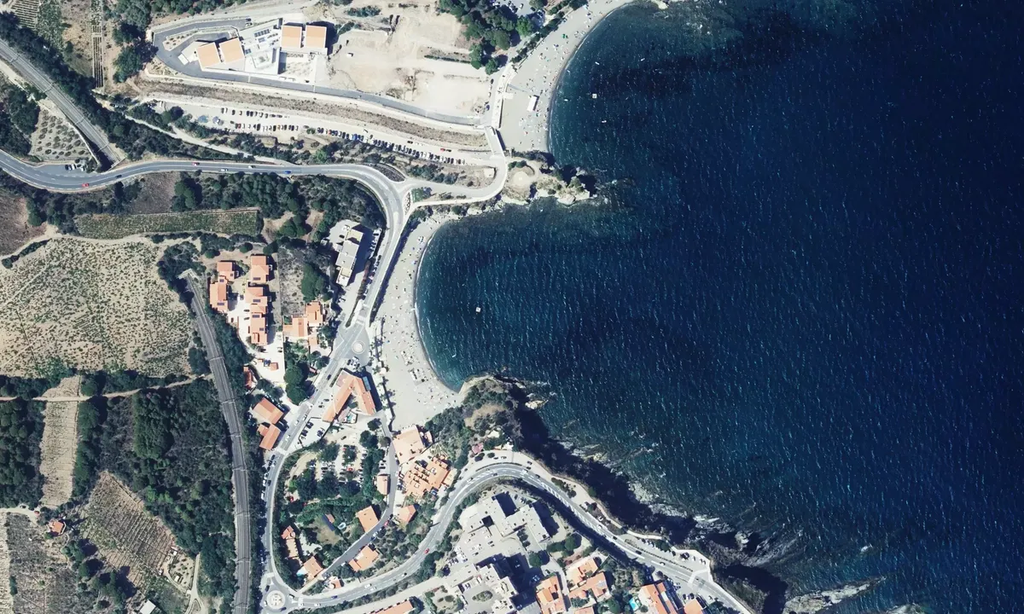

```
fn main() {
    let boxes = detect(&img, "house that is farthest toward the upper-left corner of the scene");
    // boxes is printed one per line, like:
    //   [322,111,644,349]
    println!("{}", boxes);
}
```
[178,37,246,72]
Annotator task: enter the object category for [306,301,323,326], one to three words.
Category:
house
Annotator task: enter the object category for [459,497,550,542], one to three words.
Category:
building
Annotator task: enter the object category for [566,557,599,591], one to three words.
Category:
house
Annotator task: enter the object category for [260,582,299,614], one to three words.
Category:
roundabout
